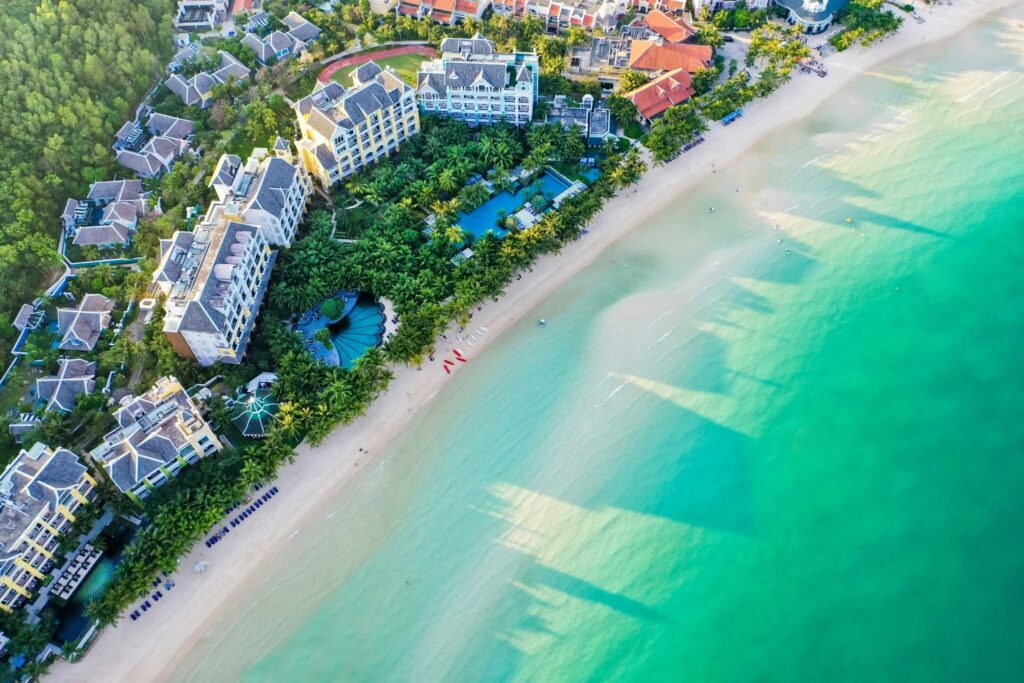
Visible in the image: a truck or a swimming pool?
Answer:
swimming pool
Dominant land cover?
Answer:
water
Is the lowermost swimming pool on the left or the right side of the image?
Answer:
left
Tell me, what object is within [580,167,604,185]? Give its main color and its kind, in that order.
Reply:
blue swimming pool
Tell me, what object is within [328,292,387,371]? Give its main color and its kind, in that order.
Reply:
blue swimming pool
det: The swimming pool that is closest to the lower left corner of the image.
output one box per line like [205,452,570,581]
[53,513,130,645]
